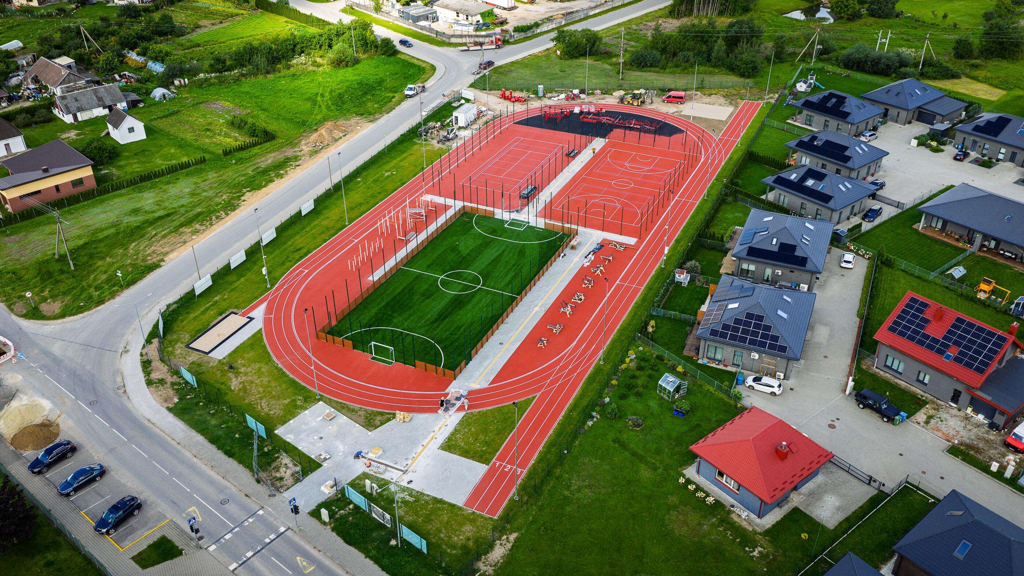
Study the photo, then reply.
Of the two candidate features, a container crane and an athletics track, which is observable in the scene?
athletics track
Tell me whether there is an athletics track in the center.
Yes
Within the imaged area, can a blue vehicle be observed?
Yes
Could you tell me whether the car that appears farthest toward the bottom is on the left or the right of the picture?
left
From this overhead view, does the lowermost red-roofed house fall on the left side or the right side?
right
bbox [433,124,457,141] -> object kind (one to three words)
work vehicle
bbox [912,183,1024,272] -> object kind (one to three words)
house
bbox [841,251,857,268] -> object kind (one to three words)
car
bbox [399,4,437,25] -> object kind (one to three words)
building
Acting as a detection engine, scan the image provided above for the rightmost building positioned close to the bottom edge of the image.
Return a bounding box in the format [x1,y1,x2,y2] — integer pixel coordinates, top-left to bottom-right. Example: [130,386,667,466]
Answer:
[891,489,1024,576]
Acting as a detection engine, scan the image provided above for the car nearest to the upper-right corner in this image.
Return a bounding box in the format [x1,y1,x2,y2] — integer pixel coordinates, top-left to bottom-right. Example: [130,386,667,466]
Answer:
[954,150,971,162]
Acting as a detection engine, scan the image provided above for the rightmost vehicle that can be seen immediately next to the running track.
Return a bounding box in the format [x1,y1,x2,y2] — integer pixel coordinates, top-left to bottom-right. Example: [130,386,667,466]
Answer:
[661,91,687,105]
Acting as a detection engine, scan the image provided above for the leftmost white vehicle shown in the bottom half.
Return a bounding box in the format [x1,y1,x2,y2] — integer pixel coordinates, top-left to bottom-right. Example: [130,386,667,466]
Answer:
[745,377,784,398]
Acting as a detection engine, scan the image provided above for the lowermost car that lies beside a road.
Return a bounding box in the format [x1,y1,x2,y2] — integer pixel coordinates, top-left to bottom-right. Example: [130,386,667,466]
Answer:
[94,496,144,535]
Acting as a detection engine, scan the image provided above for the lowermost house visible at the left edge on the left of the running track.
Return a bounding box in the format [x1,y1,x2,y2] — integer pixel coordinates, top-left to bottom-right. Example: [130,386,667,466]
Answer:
[0,139,98,213]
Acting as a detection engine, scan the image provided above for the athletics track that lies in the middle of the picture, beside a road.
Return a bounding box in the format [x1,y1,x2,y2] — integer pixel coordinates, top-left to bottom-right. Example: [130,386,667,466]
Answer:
[262,103,715,413]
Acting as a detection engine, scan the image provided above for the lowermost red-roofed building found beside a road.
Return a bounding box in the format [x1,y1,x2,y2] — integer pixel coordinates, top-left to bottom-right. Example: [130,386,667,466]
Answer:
[688,406,837,518]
